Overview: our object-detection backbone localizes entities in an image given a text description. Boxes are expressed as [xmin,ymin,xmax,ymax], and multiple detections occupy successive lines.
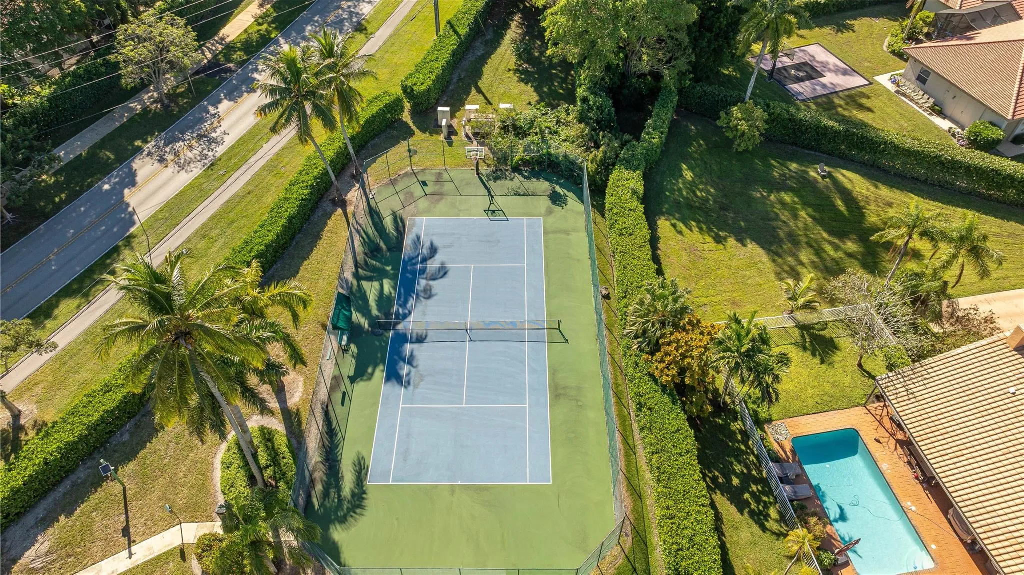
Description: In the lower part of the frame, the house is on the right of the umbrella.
[866,305,1024,575]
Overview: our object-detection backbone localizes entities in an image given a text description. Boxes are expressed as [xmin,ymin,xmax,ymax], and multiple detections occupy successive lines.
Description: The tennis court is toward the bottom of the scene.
[303,168,615,575]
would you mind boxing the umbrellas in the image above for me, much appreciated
[835,540,860,562]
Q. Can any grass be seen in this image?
Yes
